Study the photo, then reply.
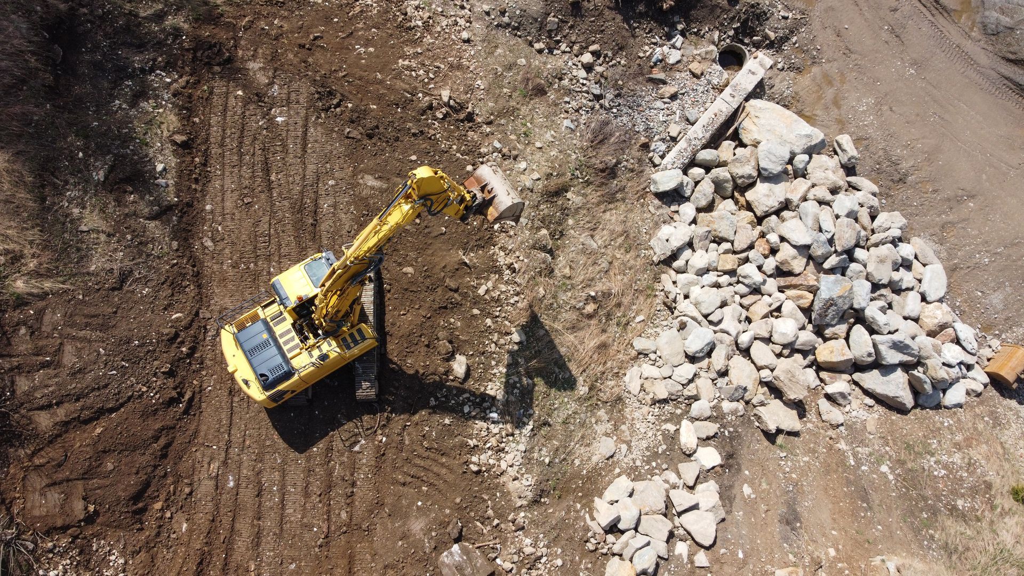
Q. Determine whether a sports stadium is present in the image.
No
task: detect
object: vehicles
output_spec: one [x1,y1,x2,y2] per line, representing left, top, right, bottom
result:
[214,156,530,405]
